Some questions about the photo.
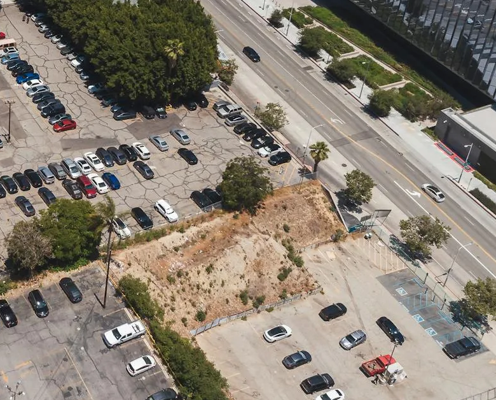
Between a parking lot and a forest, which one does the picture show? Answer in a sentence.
The area seen from above is a parking lot.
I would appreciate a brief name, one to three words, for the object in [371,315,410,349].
car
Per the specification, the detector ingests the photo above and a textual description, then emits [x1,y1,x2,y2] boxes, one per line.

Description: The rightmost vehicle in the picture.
[439,332,485,363]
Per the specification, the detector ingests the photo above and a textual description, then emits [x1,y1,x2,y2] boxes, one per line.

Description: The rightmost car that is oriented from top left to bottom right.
[417,181,449,206]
